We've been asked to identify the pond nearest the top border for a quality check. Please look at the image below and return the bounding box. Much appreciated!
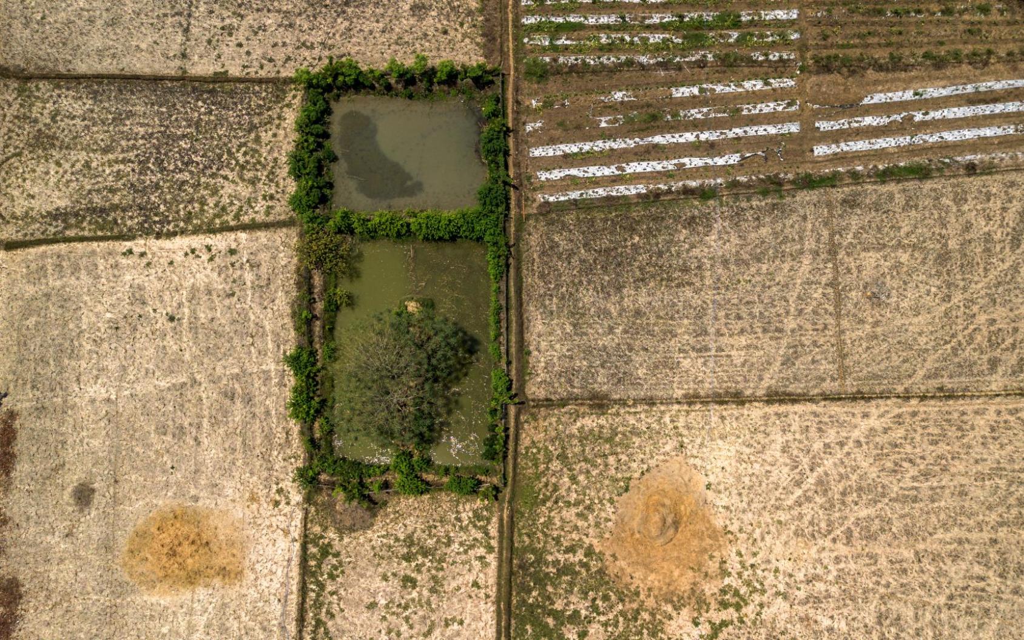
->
[330,95,489,213]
